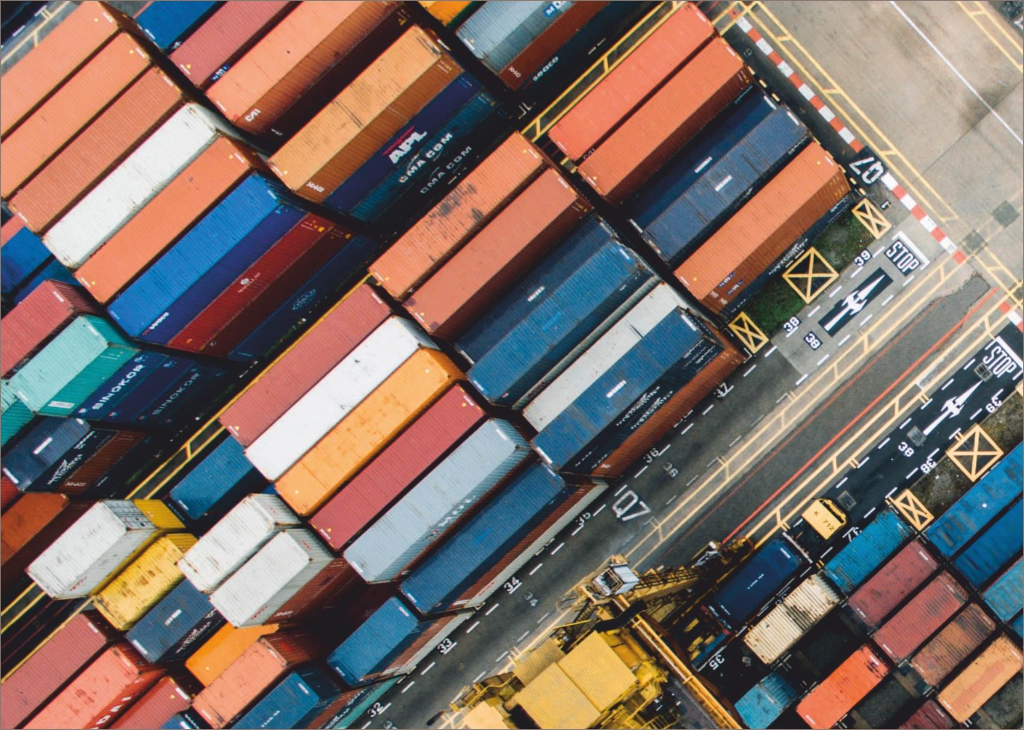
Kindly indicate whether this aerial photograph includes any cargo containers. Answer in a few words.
Yes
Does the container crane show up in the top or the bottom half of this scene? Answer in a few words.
bottom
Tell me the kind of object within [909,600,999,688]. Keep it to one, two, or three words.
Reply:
shipping container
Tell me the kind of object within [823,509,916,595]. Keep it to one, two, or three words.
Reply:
shipping container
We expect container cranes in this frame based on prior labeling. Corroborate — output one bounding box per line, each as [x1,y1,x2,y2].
[439,537,757,730]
